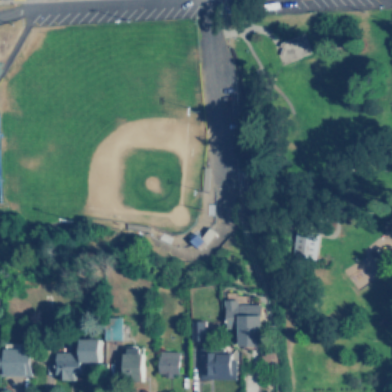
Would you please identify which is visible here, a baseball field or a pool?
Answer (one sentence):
Looking from above, you can make out a baseball field.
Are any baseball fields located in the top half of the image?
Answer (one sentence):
Yes, looking in the top half of the image, one can make out a baseball field.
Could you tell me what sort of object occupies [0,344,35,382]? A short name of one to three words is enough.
house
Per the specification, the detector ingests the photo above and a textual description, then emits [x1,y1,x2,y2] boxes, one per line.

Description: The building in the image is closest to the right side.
[296,236,320,261]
